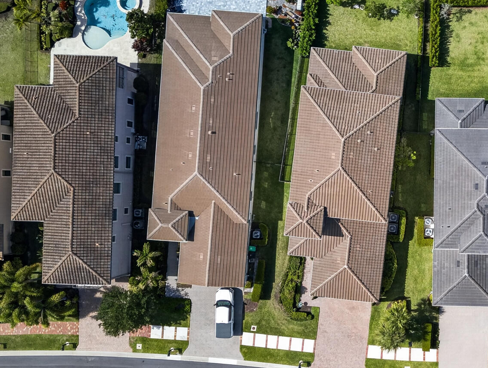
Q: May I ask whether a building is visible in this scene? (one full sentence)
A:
Yes, there is a building in the image.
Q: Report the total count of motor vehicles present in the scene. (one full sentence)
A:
My tally gives 1 motor vehicle in this photo.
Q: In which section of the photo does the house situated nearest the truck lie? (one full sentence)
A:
The house situated nearest the truck sits in the center section of the image.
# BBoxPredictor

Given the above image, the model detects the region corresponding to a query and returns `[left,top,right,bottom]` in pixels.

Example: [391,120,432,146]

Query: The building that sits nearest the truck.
[147,9,264,287]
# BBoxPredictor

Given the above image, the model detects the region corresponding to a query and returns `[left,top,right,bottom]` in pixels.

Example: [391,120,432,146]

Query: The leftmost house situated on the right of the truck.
[283,45,408,303]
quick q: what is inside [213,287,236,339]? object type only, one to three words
truck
